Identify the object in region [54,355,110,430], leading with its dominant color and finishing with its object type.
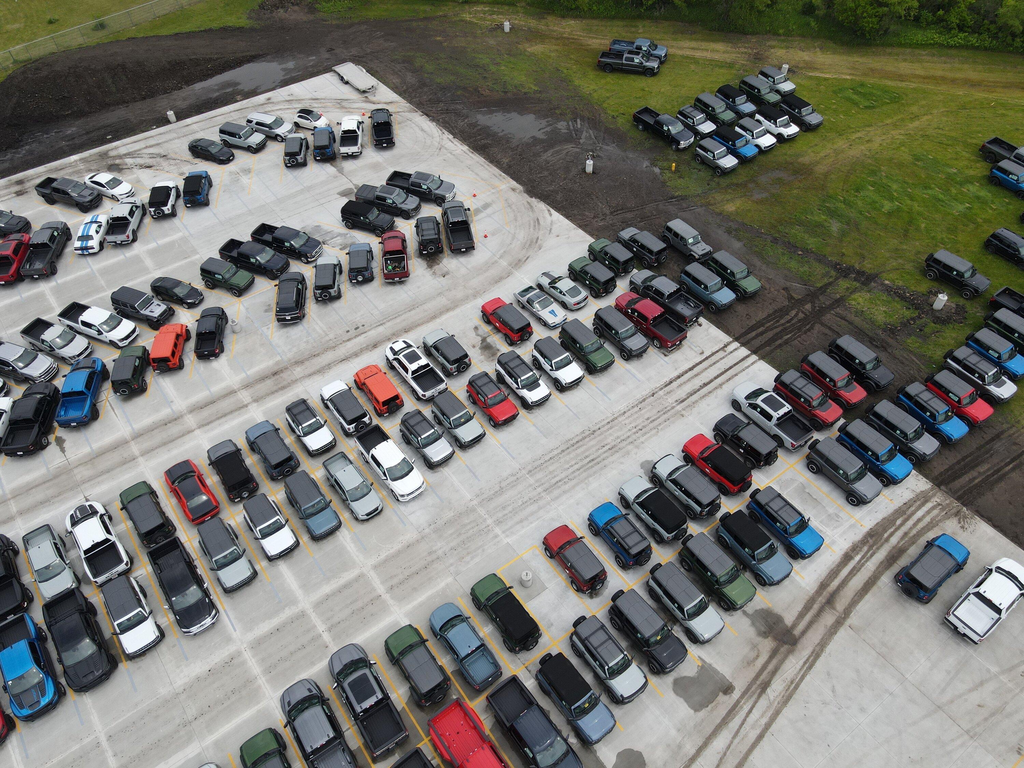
blue truck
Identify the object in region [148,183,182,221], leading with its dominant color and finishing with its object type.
black car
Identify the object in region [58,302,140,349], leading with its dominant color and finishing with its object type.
white truck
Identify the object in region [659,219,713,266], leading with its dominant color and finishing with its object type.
gray car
